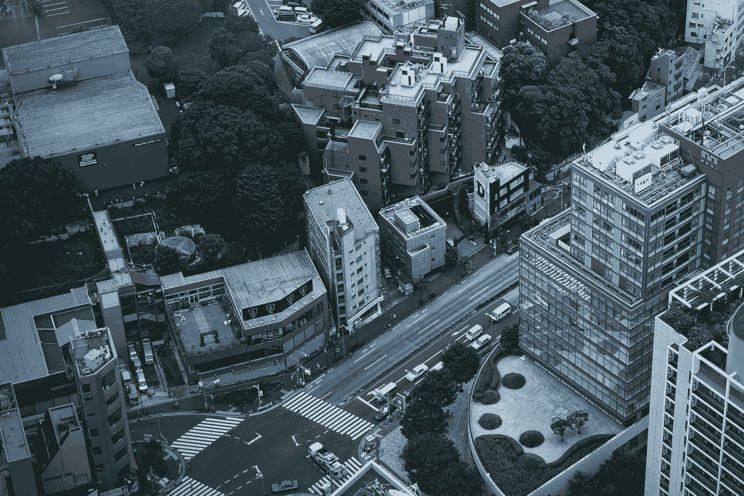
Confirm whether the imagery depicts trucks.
Yes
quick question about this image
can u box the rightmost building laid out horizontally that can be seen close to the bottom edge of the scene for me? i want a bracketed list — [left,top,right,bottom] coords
[337,462,421,496]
